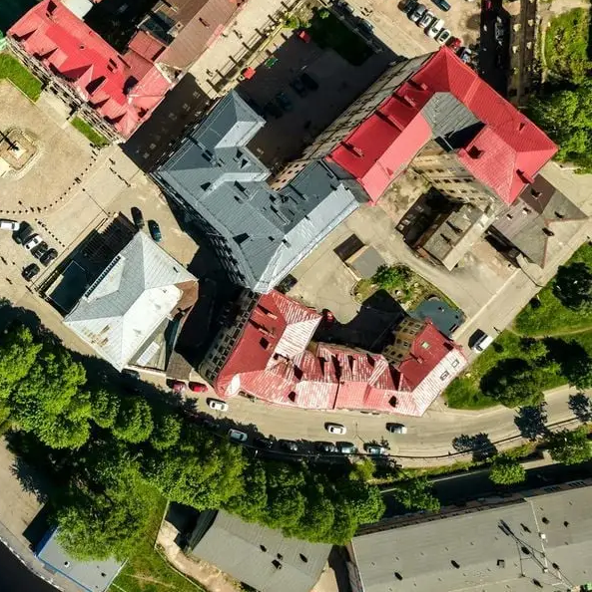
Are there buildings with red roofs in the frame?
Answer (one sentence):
Yes, looking at the shot, I can spot a building with a red roof.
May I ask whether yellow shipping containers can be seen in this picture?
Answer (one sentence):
No, the picture doesn't show any yellow shipping container.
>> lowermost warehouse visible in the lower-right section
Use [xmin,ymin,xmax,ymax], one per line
[350,474,592,592]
